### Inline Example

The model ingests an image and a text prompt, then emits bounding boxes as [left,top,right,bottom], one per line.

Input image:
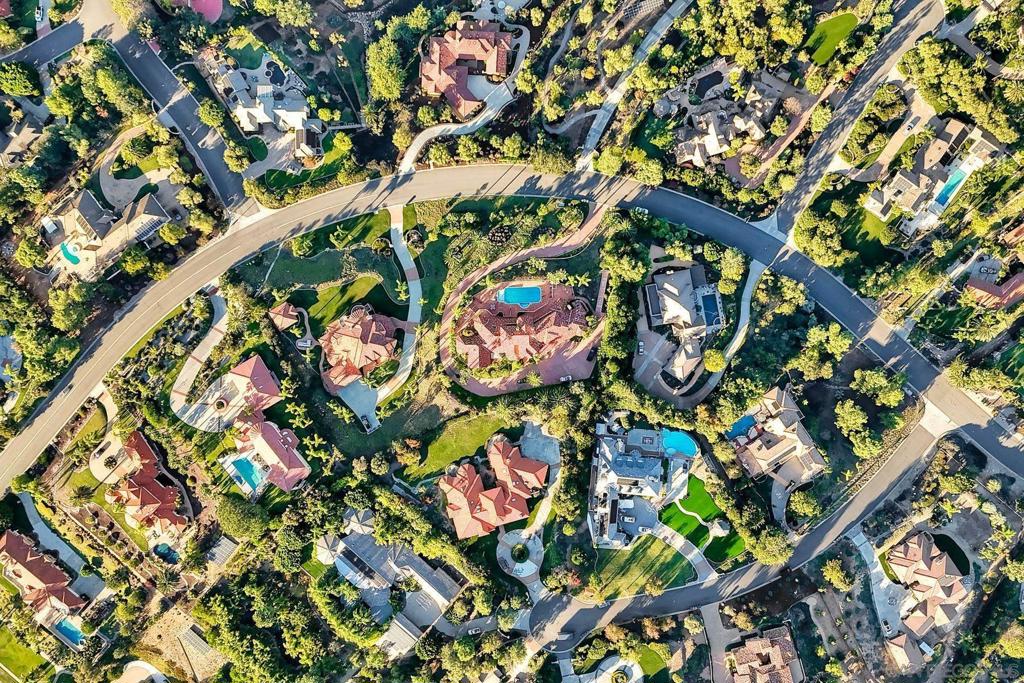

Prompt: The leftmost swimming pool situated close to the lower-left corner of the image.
[53,618,86,647]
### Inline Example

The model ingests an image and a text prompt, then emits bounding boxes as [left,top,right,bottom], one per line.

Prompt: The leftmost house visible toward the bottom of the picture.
[0,526,90,617]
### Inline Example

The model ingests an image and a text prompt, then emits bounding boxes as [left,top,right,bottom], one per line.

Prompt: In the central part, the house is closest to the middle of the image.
[460,300,589,368]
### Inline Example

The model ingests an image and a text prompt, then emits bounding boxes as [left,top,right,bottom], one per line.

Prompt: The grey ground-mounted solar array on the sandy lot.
[175,627,211,659]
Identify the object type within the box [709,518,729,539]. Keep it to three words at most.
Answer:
gazebo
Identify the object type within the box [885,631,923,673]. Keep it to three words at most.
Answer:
building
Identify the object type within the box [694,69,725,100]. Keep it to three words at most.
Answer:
swimming pool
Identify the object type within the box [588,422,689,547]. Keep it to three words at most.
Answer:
house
